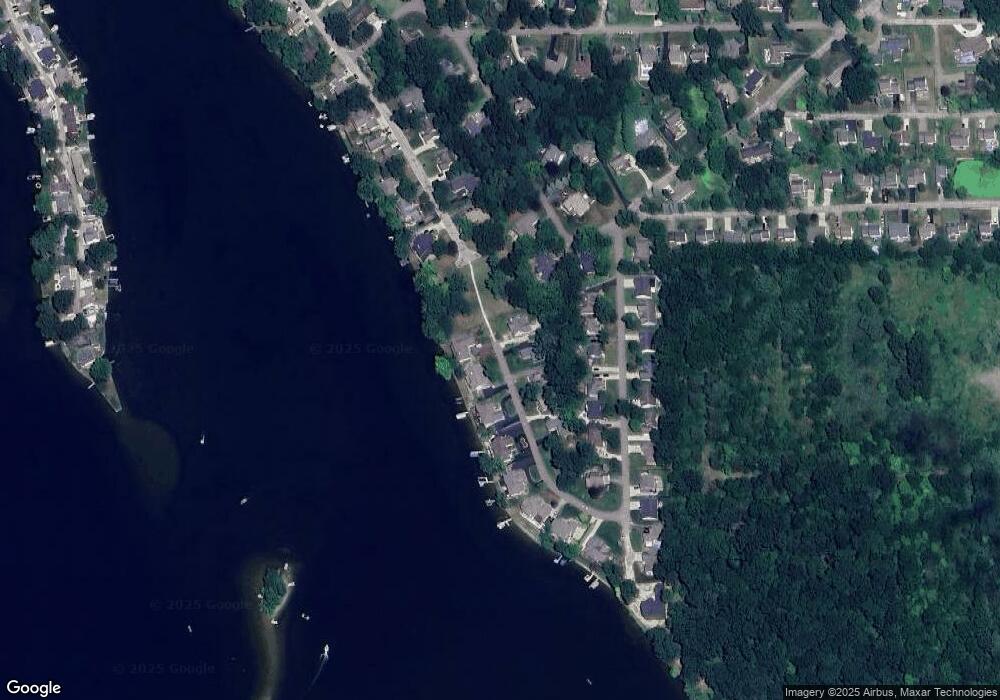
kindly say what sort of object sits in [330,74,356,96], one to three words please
house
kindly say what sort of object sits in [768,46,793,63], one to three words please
house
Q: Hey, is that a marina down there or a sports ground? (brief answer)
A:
marina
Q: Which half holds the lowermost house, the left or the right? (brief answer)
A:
right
